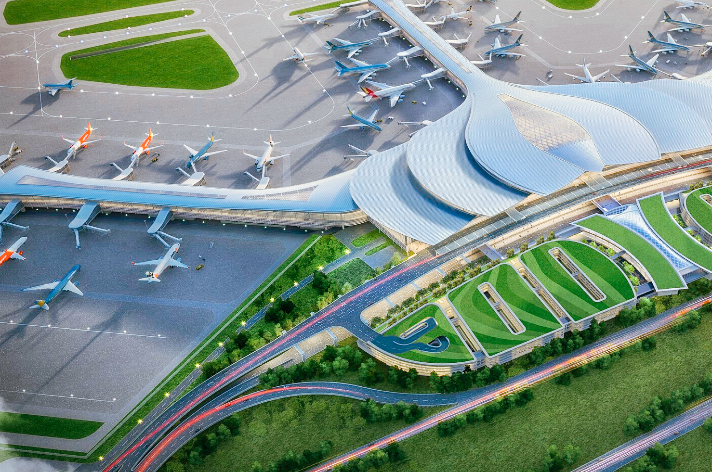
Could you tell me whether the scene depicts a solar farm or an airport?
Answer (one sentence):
It's an airport.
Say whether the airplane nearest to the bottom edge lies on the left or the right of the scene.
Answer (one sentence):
The airplane nearest to the bottom edge is on the left side of the image.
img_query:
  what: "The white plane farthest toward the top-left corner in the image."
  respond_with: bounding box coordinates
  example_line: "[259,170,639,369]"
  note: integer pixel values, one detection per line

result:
[59,122,106,155]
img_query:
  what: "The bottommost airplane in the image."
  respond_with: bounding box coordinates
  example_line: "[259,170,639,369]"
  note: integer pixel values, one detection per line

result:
[25,266,83,309]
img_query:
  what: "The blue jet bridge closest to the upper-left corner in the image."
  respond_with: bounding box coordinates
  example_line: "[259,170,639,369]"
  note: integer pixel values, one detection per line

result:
[0,203,32,245]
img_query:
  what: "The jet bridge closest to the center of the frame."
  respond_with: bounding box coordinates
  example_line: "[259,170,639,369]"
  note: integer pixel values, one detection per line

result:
[343,143,386,160]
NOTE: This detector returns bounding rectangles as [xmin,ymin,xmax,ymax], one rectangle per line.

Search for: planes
[675,0,707,8]
[337,59,389,79]
[325,38,371,54]
[647,32,691,53]
[621,47,658,76]
[241,136,293,172]
[485,13,522,32]
[485,37,523,56]
[0,239,27,266]
[296,12,334,24]
[129,245,186,282]
[122,129,168,160]
[25,266,83,309]
[569,59,604,82]
[284,47,322,63]
[440,6,473,20]
[185,135,226,168]
[361,82,414,103]
[44,80,76,95]
[339,105,382,132]
[59,122,106,155]
[664,12,705,31]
